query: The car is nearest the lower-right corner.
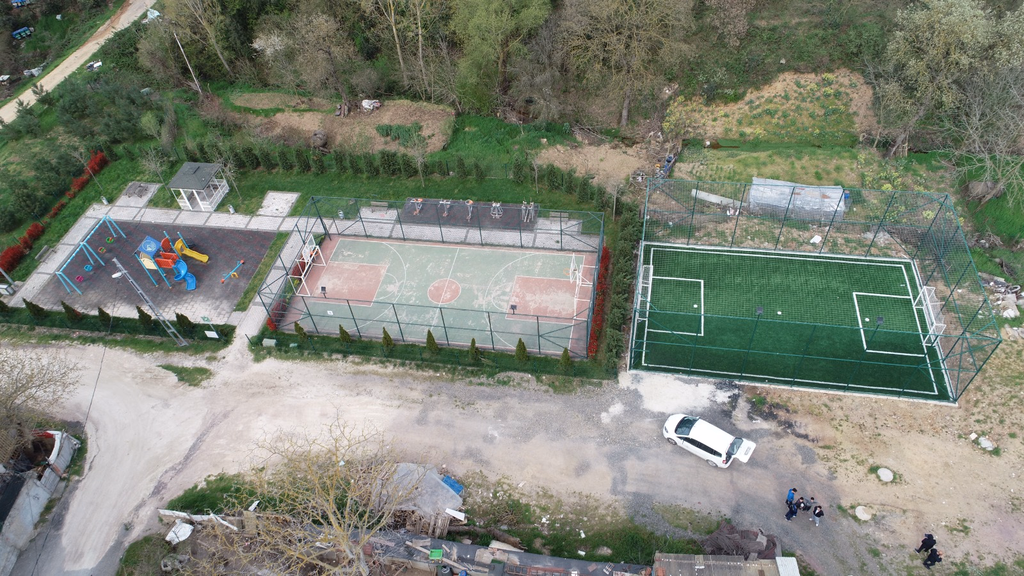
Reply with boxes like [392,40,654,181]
[661,414,758,469]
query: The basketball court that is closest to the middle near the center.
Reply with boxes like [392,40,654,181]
[274,230,602,362]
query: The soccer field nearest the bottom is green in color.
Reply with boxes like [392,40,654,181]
[628,239,959,405]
